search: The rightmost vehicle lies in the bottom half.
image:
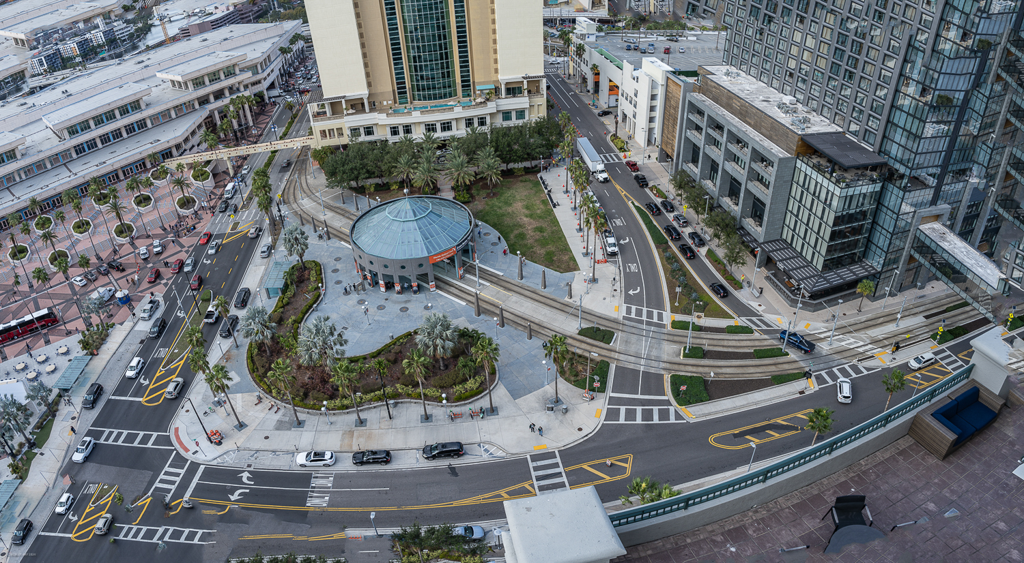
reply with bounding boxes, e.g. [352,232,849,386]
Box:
[904,352,939,373]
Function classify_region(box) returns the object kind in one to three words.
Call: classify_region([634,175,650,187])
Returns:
vehicle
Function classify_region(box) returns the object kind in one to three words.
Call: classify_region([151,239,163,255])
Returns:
vehicle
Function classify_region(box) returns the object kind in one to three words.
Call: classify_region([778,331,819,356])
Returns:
truck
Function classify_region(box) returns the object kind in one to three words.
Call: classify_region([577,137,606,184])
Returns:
truck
